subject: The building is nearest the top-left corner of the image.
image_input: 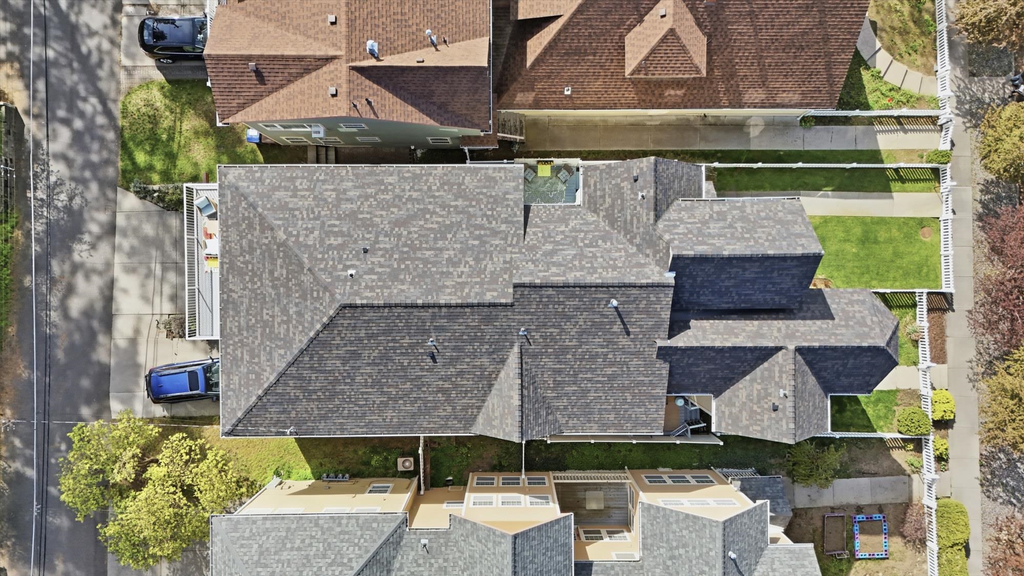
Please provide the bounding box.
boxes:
[202,0,499,153]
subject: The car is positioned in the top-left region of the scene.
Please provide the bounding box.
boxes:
[138,15,214,66]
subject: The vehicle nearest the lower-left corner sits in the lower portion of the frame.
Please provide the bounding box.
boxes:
[138,355,216,406]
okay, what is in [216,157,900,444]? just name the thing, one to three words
house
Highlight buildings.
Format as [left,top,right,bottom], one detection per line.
[498,0,866,115]
[216,157,900,444]
[202,0,499,153]
[208,463,818,576]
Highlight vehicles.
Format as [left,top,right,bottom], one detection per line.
[138,15,214,66]
[138,355,216,406]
